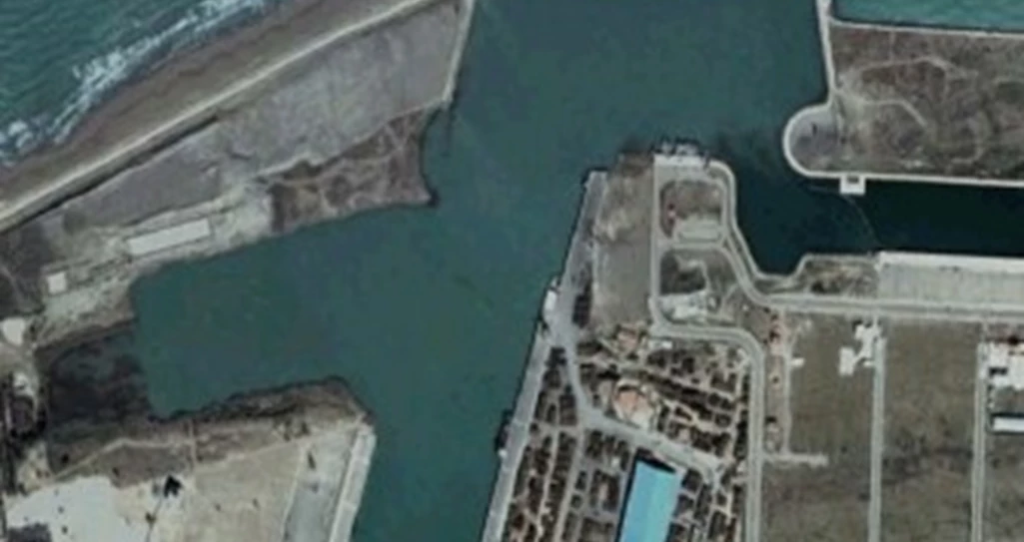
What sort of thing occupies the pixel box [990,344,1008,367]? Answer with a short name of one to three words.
building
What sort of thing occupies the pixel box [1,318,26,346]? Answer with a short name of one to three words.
building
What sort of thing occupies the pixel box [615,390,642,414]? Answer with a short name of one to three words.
house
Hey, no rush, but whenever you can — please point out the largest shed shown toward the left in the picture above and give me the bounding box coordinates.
[127,219,211,257]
